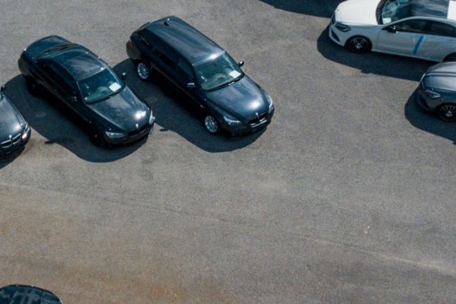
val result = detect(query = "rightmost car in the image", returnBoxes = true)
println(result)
[413,63,456,122]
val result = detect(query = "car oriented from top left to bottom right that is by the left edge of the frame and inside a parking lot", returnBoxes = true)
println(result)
[13,34,155,152]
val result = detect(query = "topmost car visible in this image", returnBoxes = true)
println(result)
[326,0,456,63]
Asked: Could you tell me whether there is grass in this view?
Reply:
No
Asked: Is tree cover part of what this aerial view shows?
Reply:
No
